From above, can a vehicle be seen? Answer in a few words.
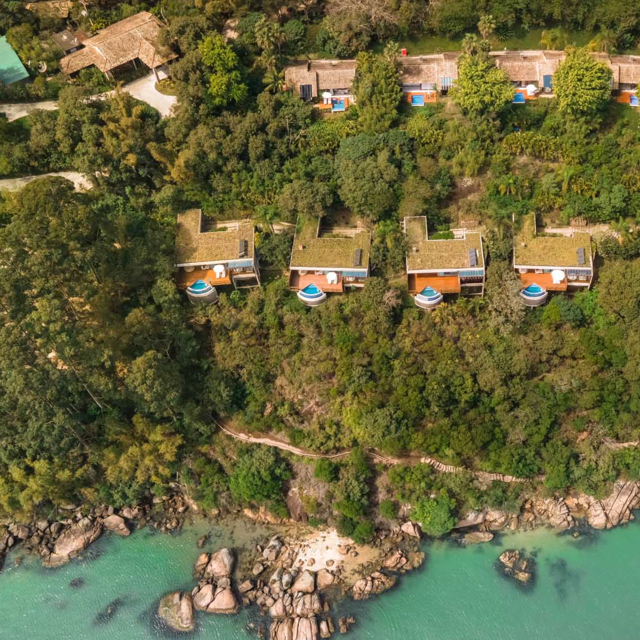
No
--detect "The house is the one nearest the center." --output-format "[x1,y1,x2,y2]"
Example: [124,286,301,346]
[290,216,373,310]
